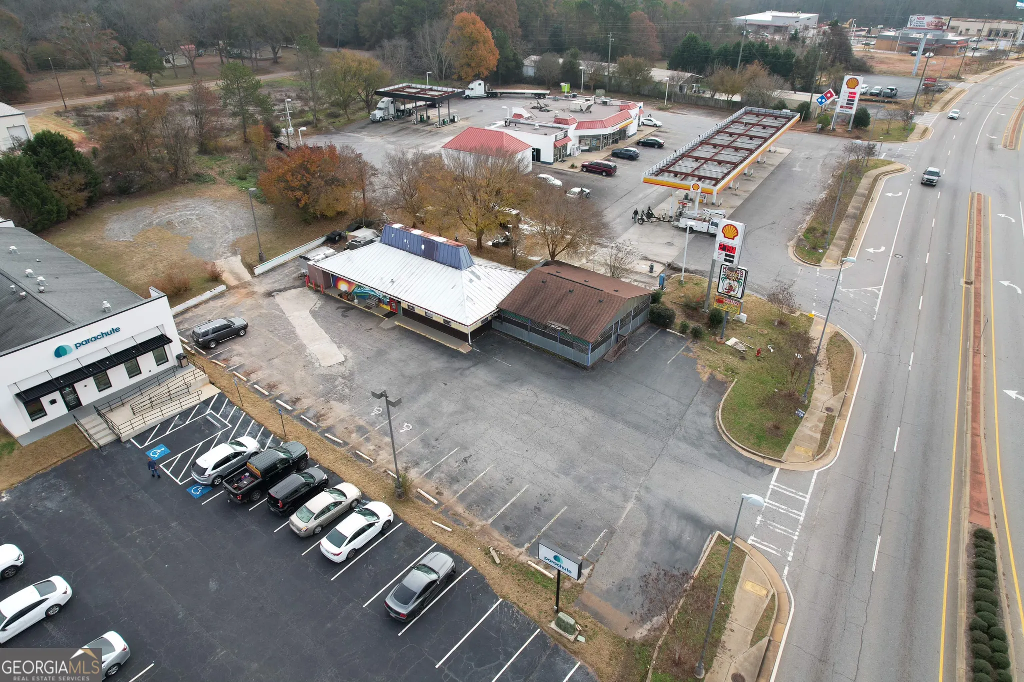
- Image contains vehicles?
Yes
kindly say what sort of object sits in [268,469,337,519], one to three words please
car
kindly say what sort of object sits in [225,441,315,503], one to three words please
vehicle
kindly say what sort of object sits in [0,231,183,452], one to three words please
building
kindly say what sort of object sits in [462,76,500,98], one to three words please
truck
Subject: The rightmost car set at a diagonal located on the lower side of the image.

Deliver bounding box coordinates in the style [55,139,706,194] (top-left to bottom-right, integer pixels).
[383,549,460,624]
